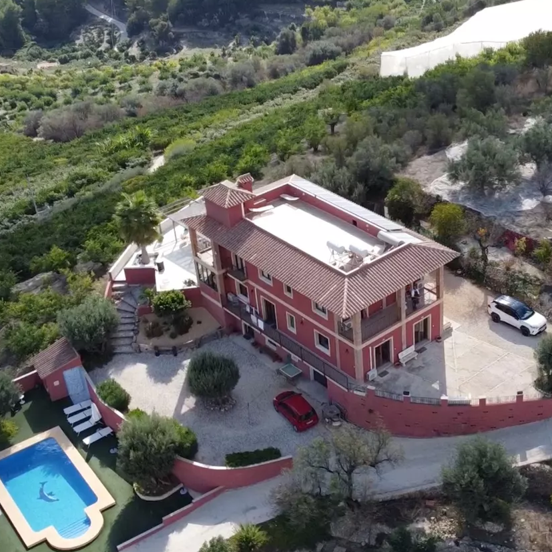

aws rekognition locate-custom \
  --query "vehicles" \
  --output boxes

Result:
[272,390,320,432]
[487,291,551,335]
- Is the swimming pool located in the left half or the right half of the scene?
left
